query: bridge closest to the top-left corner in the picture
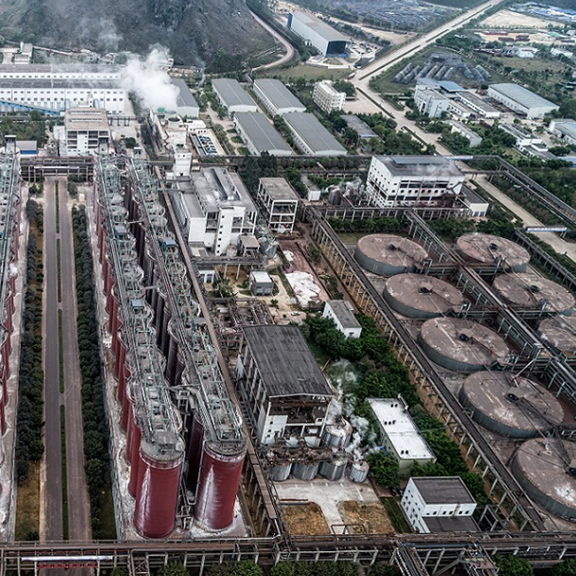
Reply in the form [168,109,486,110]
[22,150,94,172]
